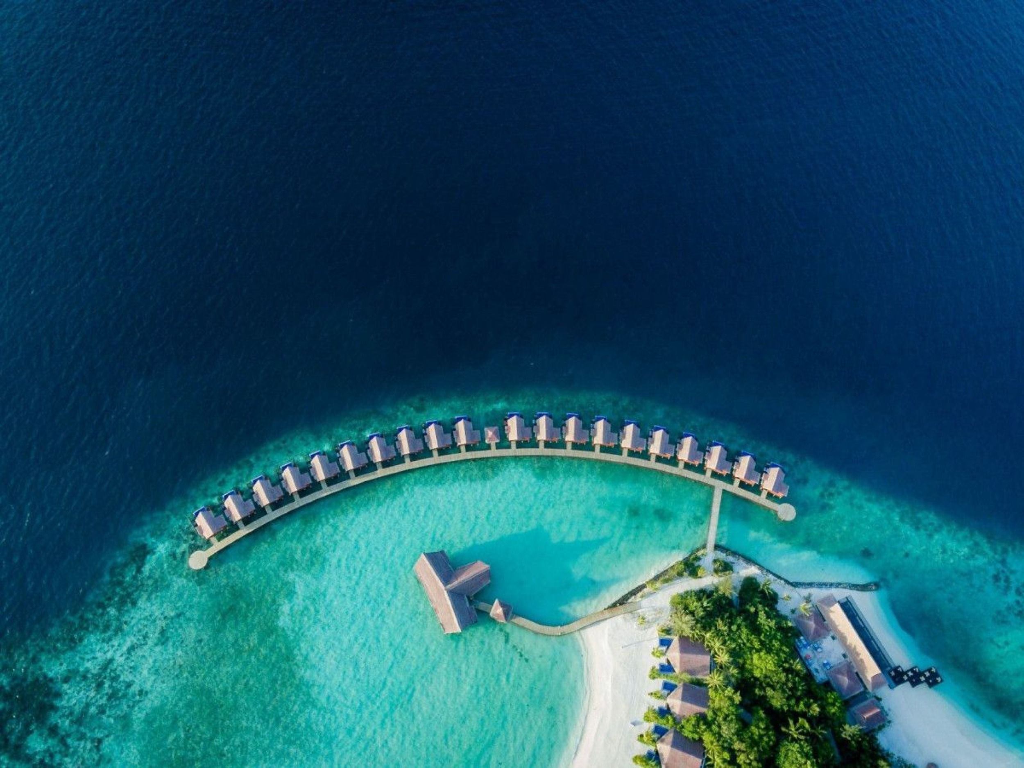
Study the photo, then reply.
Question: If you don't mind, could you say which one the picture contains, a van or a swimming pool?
swimming pool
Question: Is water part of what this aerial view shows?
Yes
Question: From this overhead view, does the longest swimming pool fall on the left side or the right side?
right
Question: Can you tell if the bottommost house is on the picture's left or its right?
right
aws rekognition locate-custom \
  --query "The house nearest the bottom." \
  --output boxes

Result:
[657,728,705,768]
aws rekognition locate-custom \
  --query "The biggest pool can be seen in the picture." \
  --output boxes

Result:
[835,593,895,689]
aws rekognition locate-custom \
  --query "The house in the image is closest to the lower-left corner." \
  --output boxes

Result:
[196,505,233,537]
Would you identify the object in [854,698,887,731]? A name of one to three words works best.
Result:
shed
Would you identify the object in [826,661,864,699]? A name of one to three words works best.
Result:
building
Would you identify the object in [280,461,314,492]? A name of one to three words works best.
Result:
house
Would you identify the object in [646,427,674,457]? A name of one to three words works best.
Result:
house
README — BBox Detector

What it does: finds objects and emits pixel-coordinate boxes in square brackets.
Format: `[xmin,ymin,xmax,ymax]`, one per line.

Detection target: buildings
[666,636,714,676]
[826,661,864,699]
[414,549,491,633]
[758,462,787,495]
[589,417,617,446]
[485,427,500,443]
[531,413,560,442]
[337,440,369,470]
[560,414,588,443]
[817,594,888,692]
[422,419,452,449]
[730,450,759,483]
[854,698,887,731]
[308,449,342,480]
[667,682,710,722]
[196,505,233,537]
[618,420,645,451]
[674,432,702,464]
[646,427,674,457]
[394,425,425,454]
[225,488,260,520]
[657,728,705,768]
[503,413,531,442]
[702,442,730,473]
[280,461,314,492]
[490,597,512,622]
[366,432,396,462]
[252,473,287,505]
[451,416,481,445]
